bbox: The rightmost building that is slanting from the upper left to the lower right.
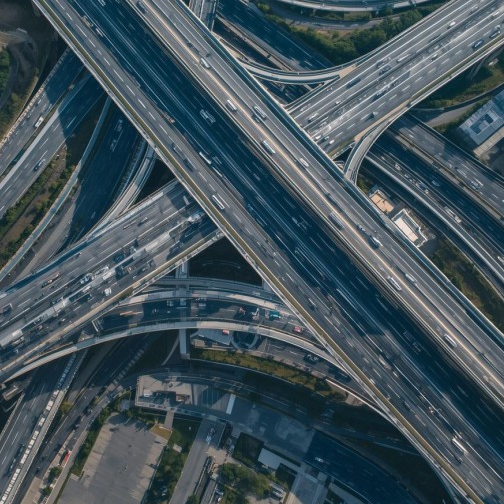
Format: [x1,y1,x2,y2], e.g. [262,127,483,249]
[388,209,428,247]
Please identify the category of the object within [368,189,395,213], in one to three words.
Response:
building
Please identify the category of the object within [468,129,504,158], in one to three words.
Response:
shed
